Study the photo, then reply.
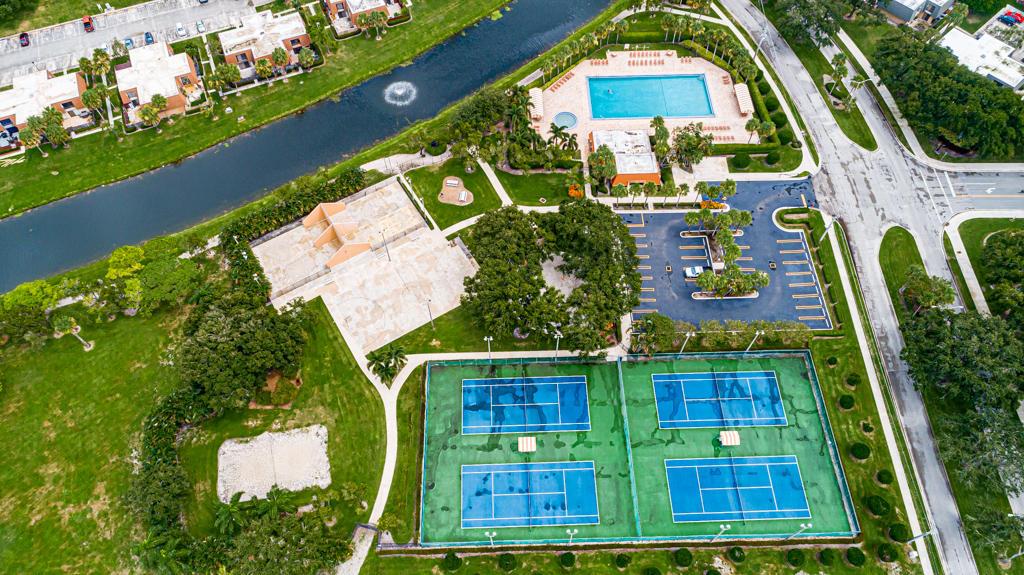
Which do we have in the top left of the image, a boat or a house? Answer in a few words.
house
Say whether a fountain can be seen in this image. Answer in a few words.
Yes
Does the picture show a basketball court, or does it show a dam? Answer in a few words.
basketball court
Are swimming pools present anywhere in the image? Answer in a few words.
Yes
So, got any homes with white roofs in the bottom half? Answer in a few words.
No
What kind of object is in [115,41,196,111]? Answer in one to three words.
house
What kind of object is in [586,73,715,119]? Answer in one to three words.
swimming pool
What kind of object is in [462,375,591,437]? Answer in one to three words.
tennis court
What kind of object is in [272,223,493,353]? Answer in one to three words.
basketball court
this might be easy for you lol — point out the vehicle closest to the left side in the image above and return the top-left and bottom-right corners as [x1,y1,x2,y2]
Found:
[17,32,29,46]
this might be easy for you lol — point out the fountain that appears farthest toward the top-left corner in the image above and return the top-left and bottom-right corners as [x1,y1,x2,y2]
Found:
[382,82,420,108]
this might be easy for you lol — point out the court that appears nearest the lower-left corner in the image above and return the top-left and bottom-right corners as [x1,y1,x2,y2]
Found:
[217,424,333,505]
